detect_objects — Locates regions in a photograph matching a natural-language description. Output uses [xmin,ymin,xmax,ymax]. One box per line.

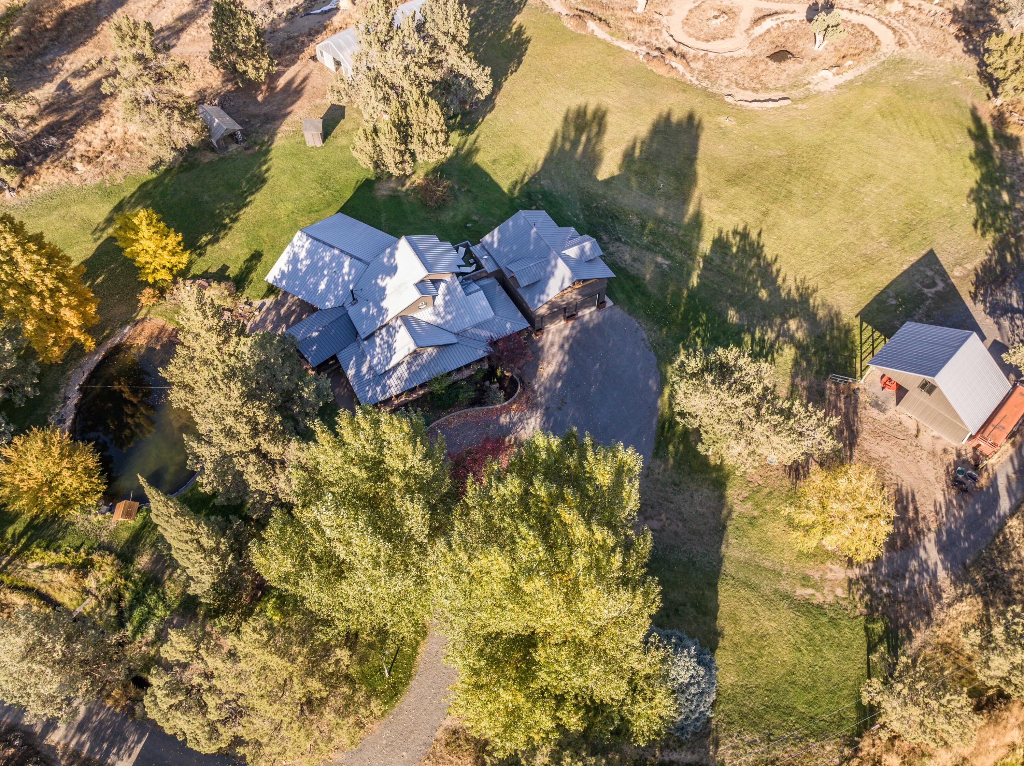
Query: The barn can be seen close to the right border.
[861,321,1014,447]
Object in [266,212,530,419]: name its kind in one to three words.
house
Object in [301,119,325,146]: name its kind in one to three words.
shed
